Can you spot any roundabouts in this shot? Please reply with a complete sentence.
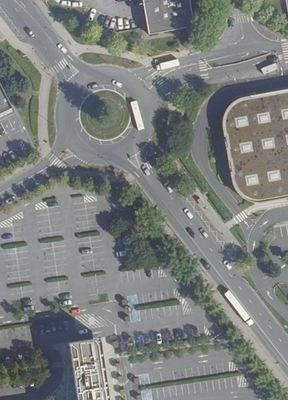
Yes, a roundabout can be made out from above.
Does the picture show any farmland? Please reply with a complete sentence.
No, there's no farmland in this view.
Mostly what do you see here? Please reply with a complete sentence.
The largest share of the image is taken up by paved ground.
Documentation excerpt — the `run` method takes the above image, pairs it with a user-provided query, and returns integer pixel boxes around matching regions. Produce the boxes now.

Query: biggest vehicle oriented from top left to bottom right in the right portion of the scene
[224,290,254,326]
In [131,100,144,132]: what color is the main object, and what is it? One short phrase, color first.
white vehicle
